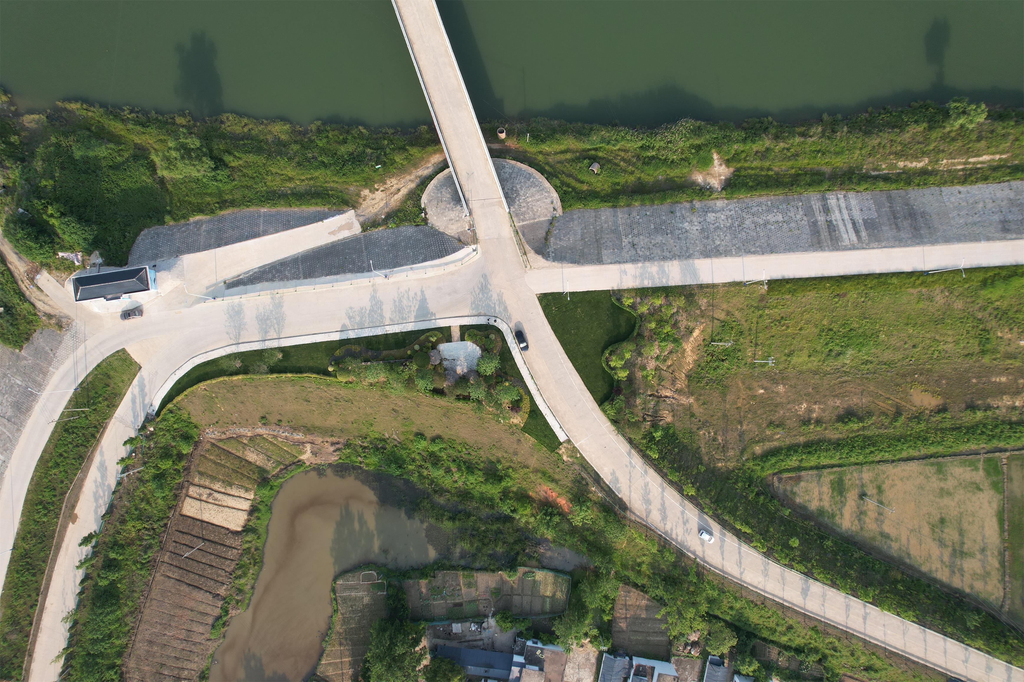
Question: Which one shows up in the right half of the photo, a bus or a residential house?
residential house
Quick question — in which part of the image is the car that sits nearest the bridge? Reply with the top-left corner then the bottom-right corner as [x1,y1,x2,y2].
[515,330,529,352]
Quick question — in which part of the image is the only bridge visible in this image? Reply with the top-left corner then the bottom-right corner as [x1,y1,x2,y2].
[392,0,508,216]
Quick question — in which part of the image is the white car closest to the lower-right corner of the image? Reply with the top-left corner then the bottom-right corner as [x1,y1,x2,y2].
[698,530,717,546]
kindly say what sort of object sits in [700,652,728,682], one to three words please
house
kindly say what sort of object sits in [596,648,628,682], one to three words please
house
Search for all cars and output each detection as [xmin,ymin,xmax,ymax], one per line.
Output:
[698,530,717,546]
[118,308,142,319]
[515,330,529,352]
